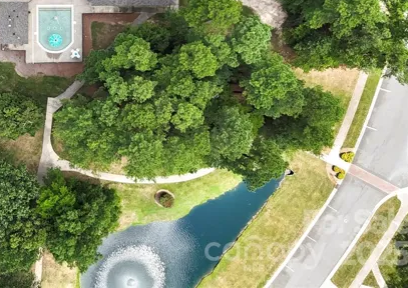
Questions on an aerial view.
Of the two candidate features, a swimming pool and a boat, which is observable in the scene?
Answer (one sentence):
The image shows a swimming pool.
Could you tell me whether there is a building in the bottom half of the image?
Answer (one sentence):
No, I see no building in the bottom half of the image.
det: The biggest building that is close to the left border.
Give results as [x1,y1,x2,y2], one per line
[1,2,28,43]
